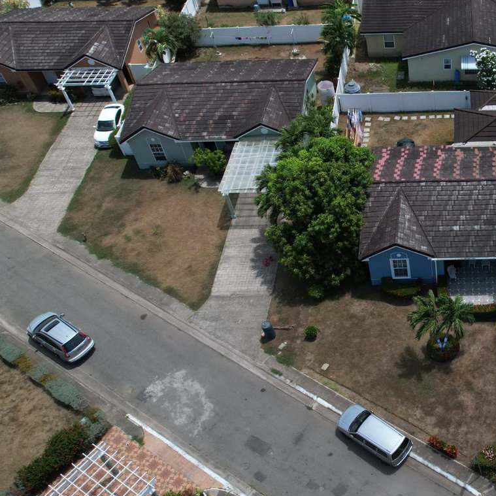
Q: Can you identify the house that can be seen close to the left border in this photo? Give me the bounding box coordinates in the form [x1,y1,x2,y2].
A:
[0,5,165,93]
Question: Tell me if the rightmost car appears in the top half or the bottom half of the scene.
bottom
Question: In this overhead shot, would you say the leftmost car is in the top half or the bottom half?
bottom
